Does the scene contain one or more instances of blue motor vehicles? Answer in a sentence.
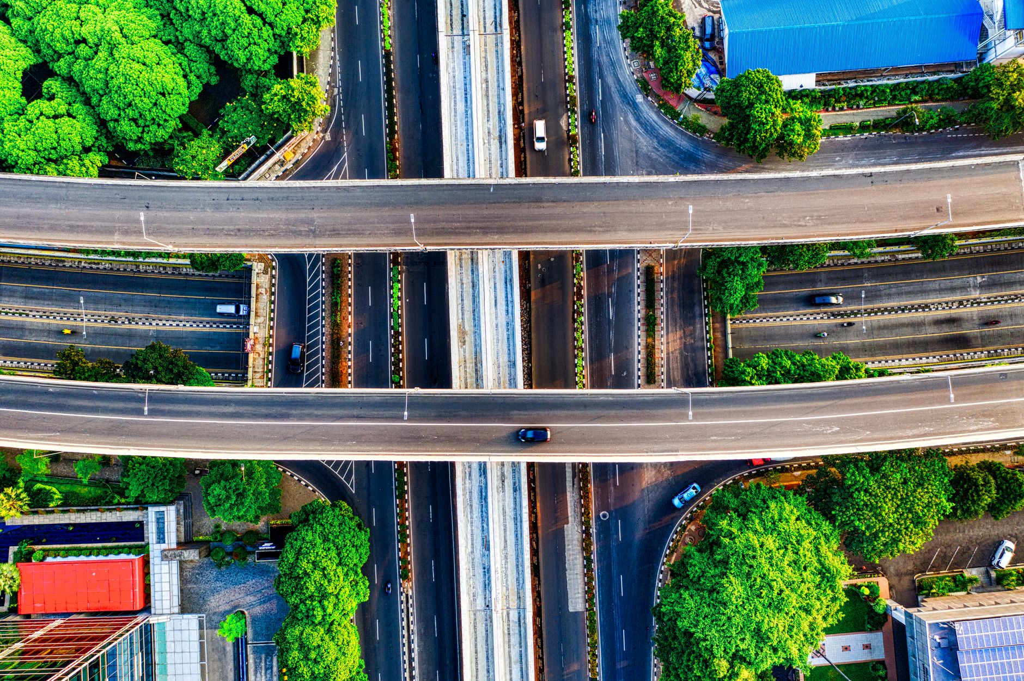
Yes, a blue motor vehicle is visible in the scene.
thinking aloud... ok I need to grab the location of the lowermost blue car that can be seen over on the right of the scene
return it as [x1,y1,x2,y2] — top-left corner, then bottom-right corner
[672,483,704,509]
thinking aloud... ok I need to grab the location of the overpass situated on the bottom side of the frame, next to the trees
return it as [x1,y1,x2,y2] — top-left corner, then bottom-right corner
[0,363,1024,463]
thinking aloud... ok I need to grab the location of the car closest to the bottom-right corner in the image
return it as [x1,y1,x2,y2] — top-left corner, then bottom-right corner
[994,541,1017,573]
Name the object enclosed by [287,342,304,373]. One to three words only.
car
